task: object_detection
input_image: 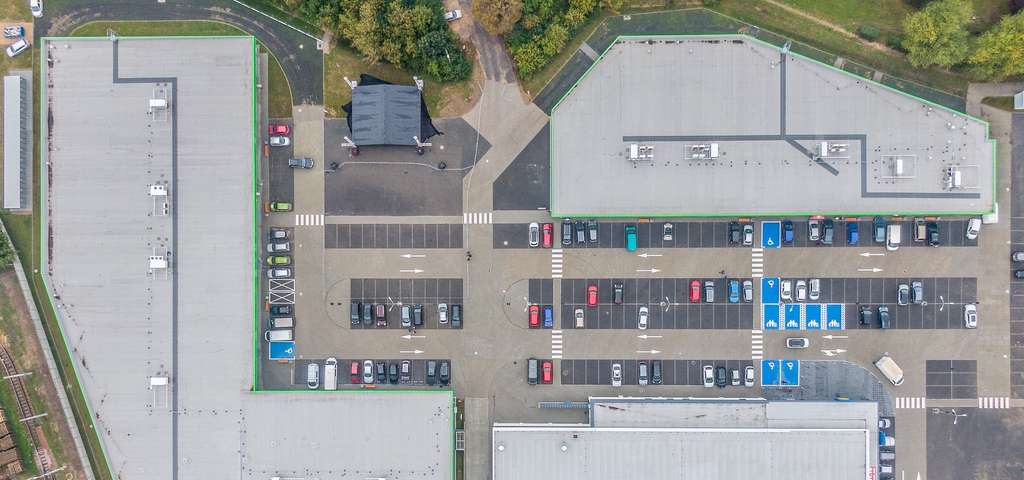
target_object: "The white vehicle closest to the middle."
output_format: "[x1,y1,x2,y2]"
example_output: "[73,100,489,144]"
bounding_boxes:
[528,222,540,246]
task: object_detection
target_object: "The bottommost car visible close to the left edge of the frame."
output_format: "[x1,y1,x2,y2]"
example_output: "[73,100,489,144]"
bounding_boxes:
[7,38,31,57]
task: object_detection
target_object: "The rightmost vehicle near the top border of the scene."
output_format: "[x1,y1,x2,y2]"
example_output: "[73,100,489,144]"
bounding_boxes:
[443,8,464,22]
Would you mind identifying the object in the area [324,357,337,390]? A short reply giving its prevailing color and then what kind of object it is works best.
white vehicle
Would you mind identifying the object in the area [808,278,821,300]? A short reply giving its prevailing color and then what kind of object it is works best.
white vehicle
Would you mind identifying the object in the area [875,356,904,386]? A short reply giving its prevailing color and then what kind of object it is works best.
white truck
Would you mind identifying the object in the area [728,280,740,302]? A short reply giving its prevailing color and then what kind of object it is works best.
blue vehicle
